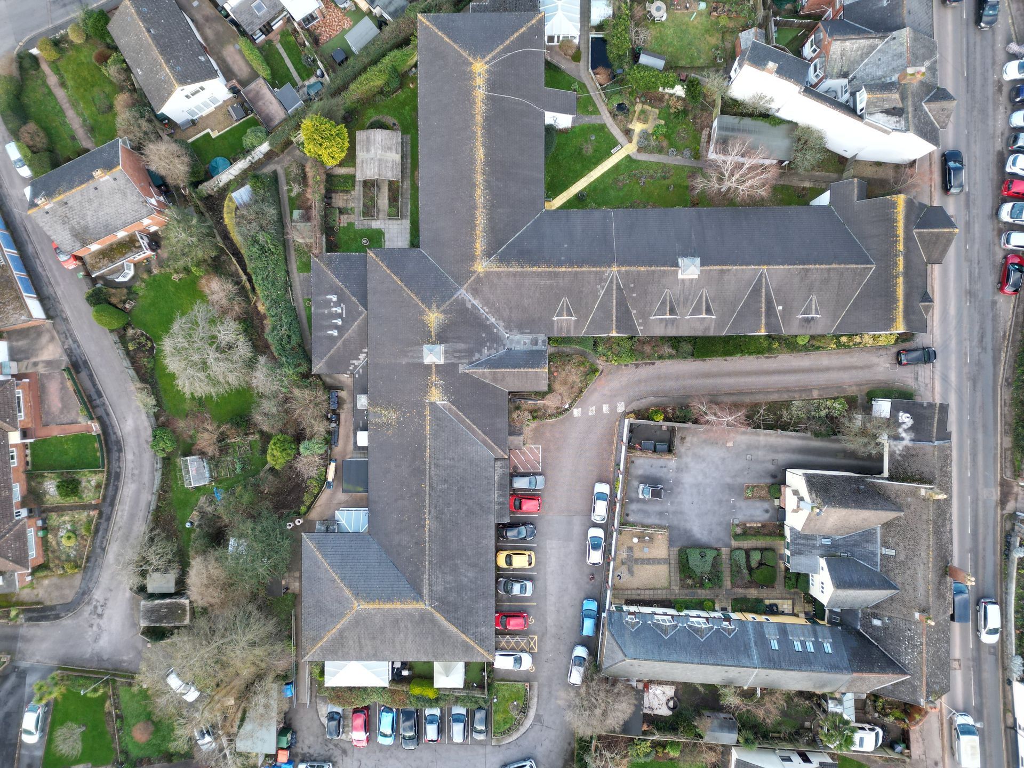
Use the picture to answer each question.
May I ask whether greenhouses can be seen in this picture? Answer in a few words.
Yes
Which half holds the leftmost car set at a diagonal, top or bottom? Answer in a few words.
top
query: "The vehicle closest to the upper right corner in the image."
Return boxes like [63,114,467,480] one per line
[975,0,999,32]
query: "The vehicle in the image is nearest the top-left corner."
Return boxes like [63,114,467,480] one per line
[5,141,37,180]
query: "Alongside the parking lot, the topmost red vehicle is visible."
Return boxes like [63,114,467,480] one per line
[510,494,542,513]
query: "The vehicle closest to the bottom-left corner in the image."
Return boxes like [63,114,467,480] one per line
[21,702,47,742]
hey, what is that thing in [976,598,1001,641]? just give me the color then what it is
white car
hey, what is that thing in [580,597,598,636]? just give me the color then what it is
blue car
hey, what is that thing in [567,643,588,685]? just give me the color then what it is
white car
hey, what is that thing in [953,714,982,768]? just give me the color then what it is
white van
